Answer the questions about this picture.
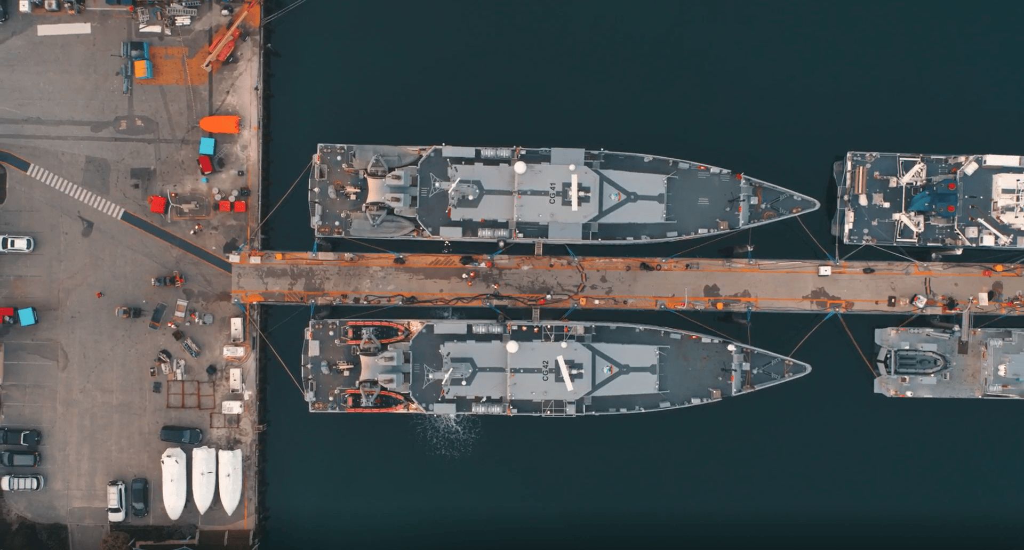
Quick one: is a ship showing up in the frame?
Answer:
Yes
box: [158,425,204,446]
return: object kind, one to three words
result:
vehicle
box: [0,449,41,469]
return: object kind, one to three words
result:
car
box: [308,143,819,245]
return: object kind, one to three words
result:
ship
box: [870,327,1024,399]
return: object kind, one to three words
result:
vessel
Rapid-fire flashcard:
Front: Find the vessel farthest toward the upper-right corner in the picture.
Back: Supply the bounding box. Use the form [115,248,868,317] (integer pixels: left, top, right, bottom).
[829,152,1024,248]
